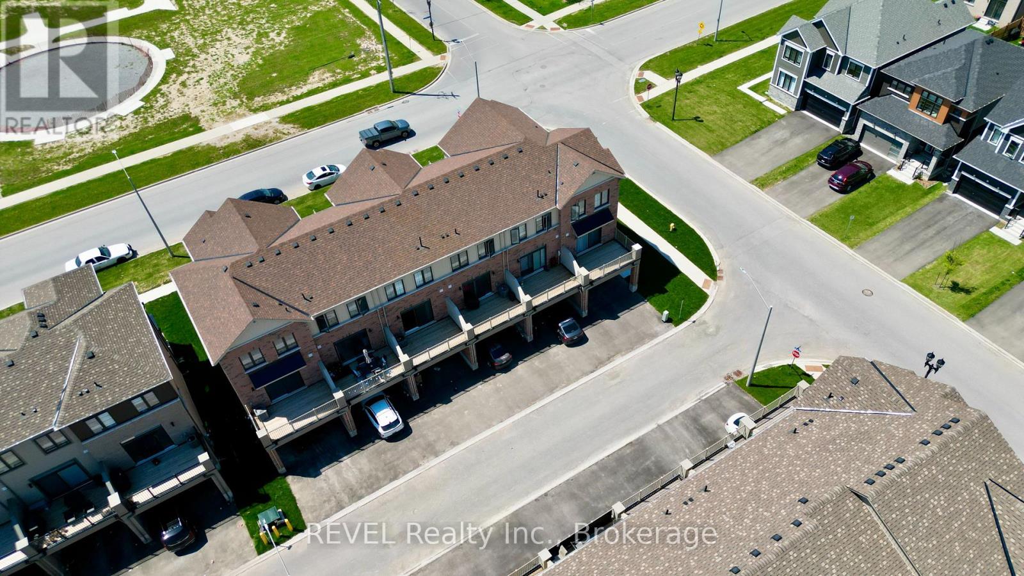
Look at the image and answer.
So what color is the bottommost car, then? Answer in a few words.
black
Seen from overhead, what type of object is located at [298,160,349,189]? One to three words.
car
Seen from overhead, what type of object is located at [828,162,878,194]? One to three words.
car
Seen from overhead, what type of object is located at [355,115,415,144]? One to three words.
truck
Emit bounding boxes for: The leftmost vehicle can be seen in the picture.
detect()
[62,240,133,273]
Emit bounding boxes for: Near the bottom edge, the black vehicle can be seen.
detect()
[148,493,195,553]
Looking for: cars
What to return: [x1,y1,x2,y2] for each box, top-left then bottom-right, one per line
[477,333,515,369]
[719,409,756,438]
[828,162,878,194]
[148,493,195,553]
[535,302,585,344]
[62,240,133,273]
[359,390,406,436]
[298,160,349,189]
[815,140,865,170]
[234,184,286,203]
